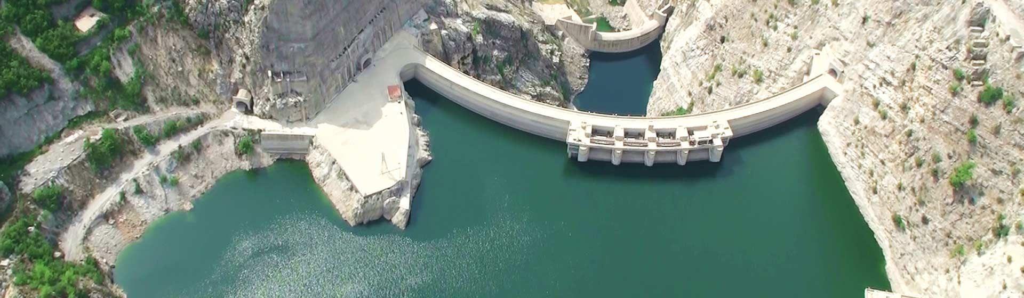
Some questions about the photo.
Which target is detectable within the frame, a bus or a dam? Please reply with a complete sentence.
The image shows a dam.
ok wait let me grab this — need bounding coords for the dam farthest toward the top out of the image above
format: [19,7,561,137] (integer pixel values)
[563,0,673,56]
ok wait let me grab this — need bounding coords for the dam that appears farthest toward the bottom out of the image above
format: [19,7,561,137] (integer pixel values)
[398,38,844,167]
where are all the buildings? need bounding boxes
[387,85,401,100]
[74,8,107,38]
